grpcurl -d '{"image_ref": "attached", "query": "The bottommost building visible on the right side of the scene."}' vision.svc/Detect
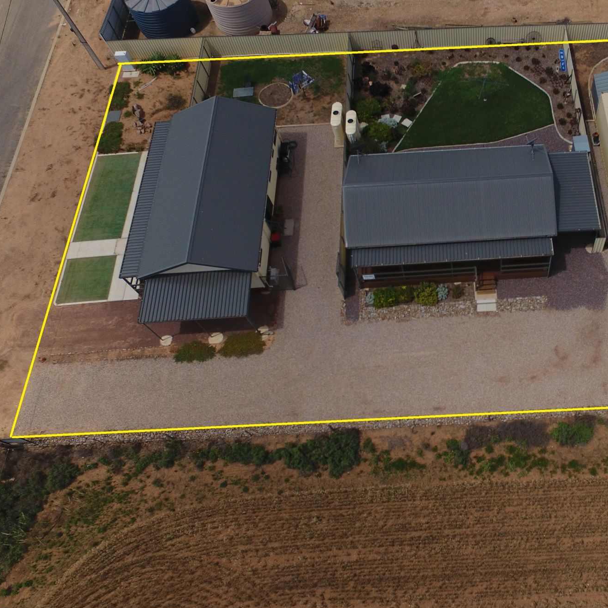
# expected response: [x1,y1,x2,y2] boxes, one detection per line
[343,143,603,311]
